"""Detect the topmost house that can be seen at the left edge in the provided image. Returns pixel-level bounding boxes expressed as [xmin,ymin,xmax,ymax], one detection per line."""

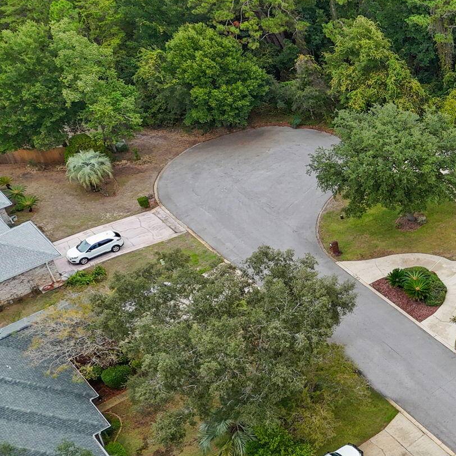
[0,189,66,316]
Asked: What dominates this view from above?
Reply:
trees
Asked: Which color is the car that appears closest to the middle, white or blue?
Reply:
white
